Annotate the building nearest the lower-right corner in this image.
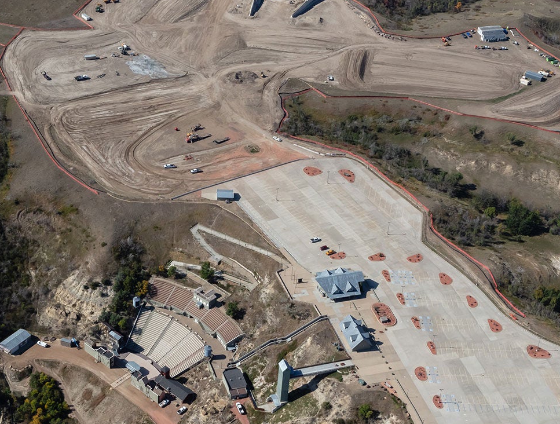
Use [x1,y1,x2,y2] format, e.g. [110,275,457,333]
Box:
[339,314,371,354]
